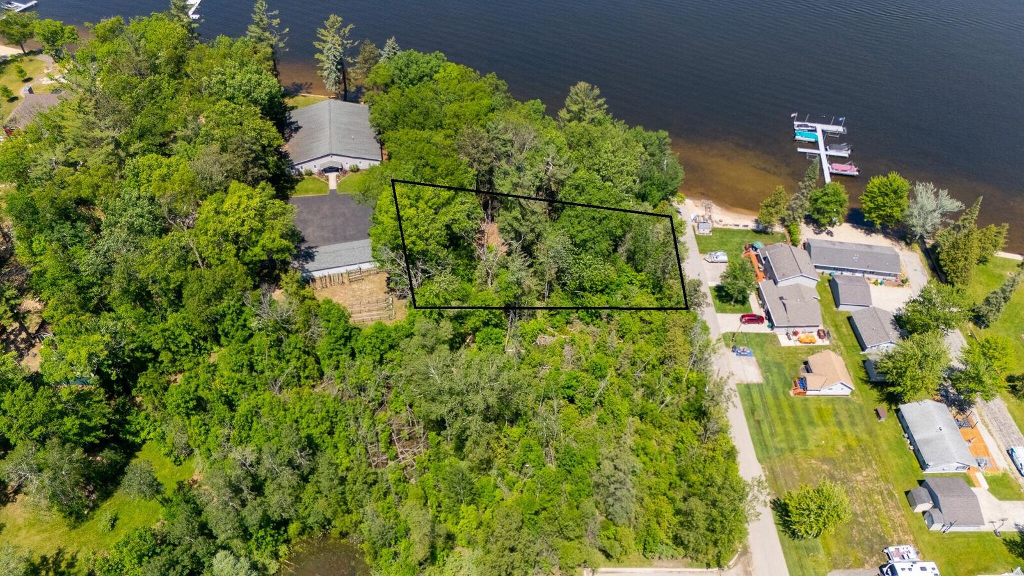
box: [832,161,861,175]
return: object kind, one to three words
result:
boat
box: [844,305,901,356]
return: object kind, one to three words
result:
house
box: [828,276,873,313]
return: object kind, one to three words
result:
building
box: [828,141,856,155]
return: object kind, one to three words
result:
boat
